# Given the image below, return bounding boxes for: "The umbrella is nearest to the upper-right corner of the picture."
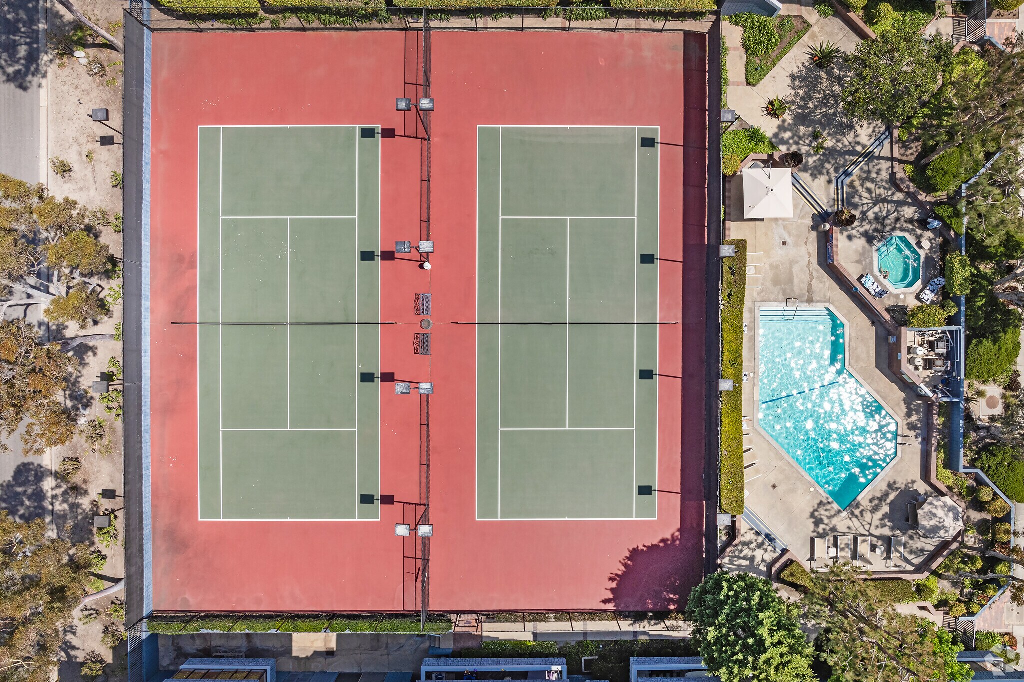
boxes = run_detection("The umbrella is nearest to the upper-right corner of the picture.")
[742,148,793,219]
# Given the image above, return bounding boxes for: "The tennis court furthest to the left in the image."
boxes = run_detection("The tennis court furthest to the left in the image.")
[151,30,431,613]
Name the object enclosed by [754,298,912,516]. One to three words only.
swimming pool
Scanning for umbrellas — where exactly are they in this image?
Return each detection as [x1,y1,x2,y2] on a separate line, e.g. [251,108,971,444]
[917,495,992,541]
[742,148,793,219]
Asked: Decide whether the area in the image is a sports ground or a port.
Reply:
sports ground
